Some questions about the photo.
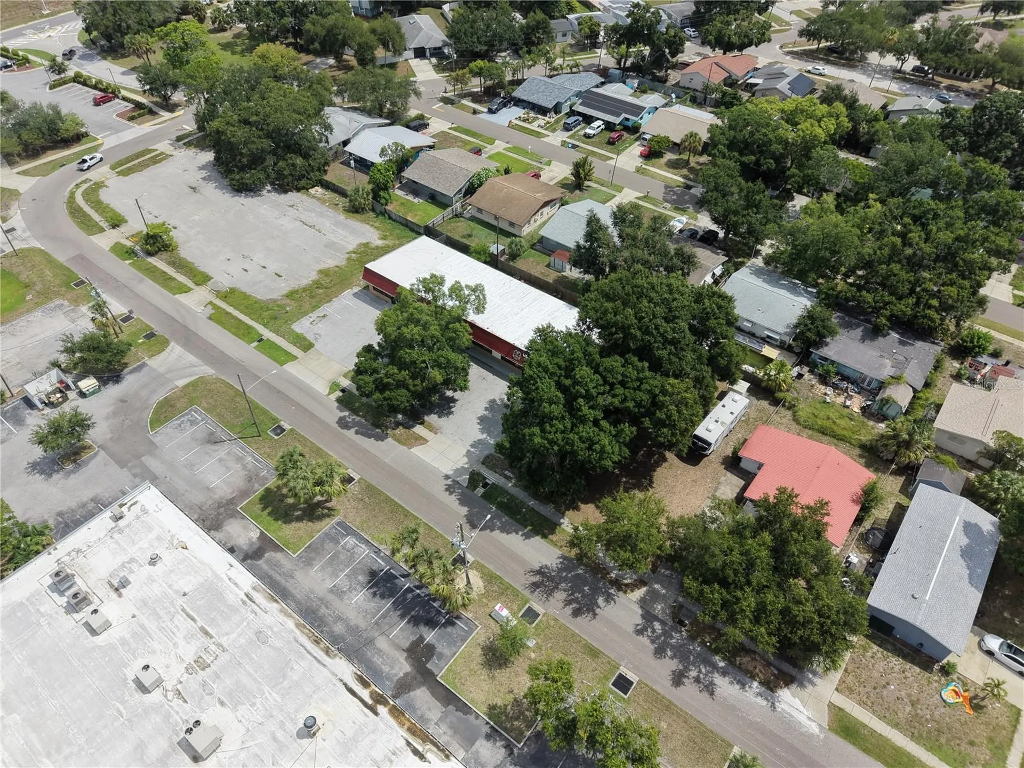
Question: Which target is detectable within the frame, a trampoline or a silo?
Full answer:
The one in the frame is a trampoline.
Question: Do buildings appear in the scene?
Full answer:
Yes, there's a building here.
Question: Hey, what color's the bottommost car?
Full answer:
In this view, the bottommost car is white.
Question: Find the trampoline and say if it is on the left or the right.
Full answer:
You can find the trampoline on the right side of the picture.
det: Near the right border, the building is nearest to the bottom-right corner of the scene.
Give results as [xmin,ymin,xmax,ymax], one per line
[864,485,1010,661]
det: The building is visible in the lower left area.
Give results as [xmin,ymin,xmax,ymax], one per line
[0,480,464,768]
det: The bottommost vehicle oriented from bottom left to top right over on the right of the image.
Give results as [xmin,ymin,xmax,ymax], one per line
[691,392,749,458]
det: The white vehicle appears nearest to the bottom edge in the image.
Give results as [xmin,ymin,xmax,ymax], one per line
[983,635,1024,673]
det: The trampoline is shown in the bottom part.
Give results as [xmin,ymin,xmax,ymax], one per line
[862,522,901,557]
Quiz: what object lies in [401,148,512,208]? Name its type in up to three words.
house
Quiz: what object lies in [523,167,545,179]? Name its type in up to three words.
vehicle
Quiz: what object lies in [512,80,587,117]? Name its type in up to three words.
house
